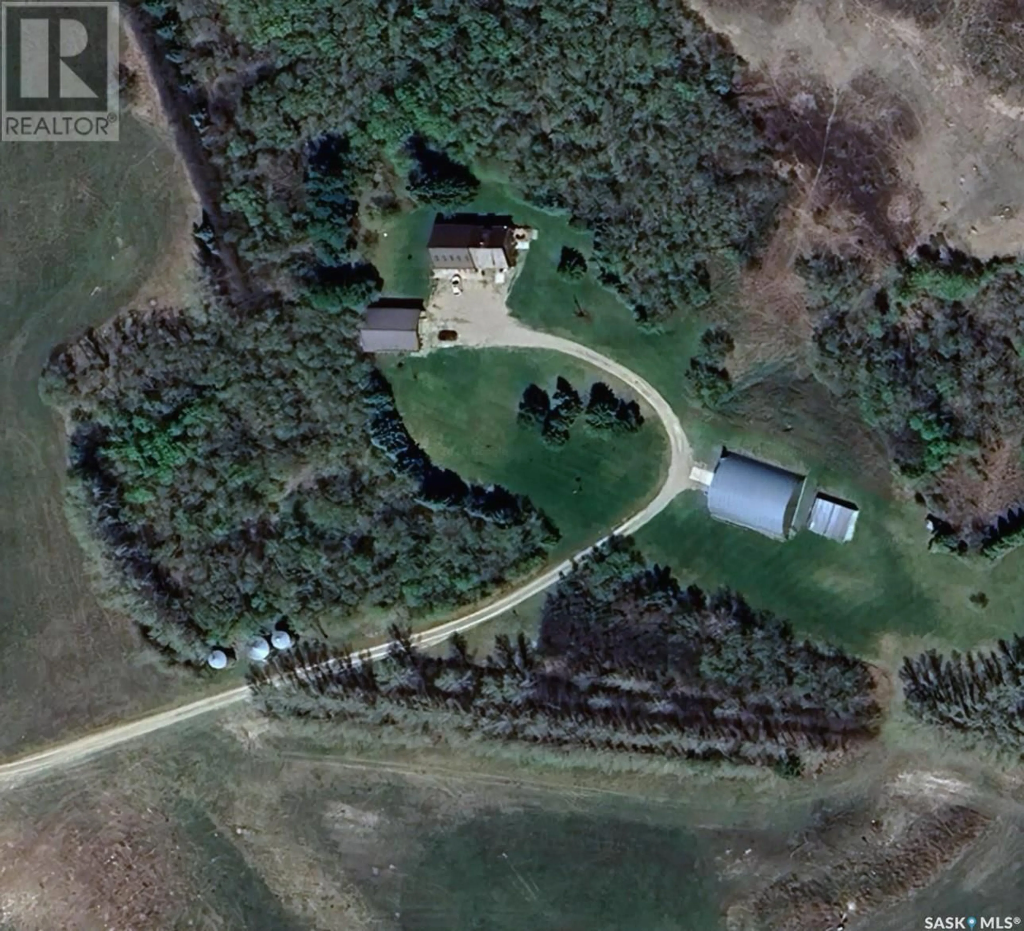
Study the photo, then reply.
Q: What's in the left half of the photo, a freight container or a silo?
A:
silo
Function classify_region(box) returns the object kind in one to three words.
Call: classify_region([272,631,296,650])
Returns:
silo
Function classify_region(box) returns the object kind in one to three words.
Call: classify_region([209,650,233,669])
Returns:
silo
